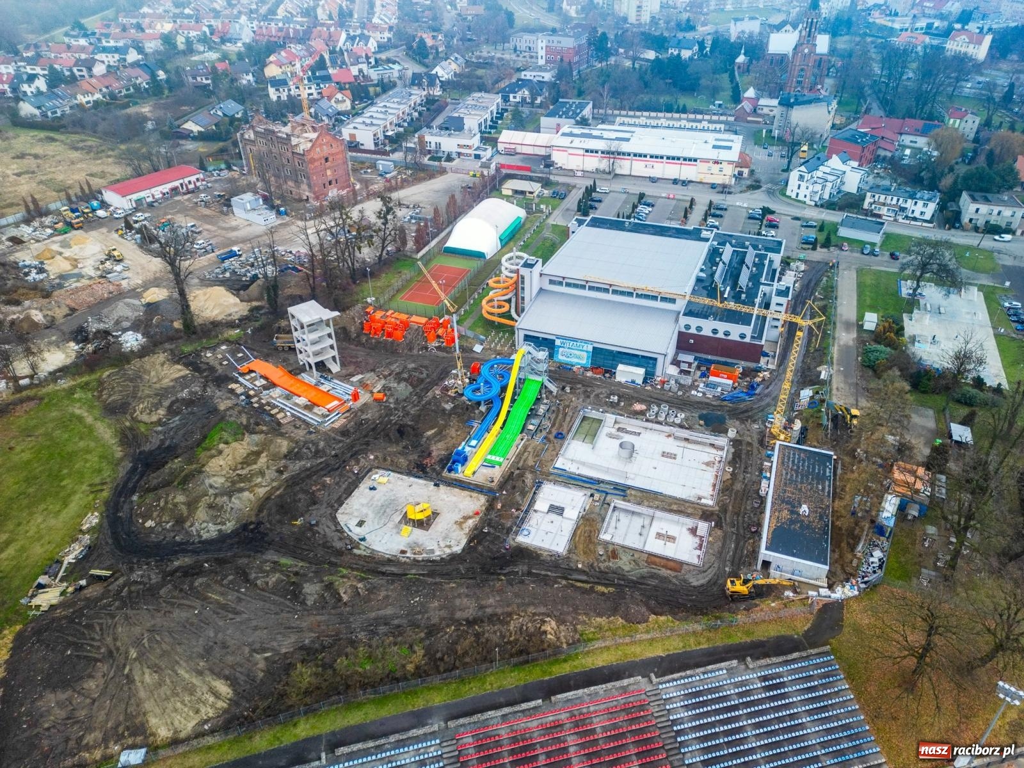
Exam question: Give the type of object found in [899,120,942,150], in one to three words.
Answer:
barn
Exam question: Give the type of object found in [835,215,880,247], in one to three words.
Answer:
house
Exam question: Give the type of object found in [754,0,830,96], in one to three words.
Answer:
building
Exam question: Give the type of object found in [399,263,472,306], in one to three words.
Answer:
tennis court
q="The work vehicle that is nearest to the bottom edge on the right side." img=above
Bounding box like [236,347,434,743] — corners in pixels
[728,574,790,604]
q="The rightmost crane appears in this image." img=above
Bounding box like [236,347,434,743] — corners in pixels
[584,275,836,443]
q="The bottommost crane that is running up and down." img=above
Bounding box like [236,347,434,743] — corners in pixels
[419,262,473,394]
